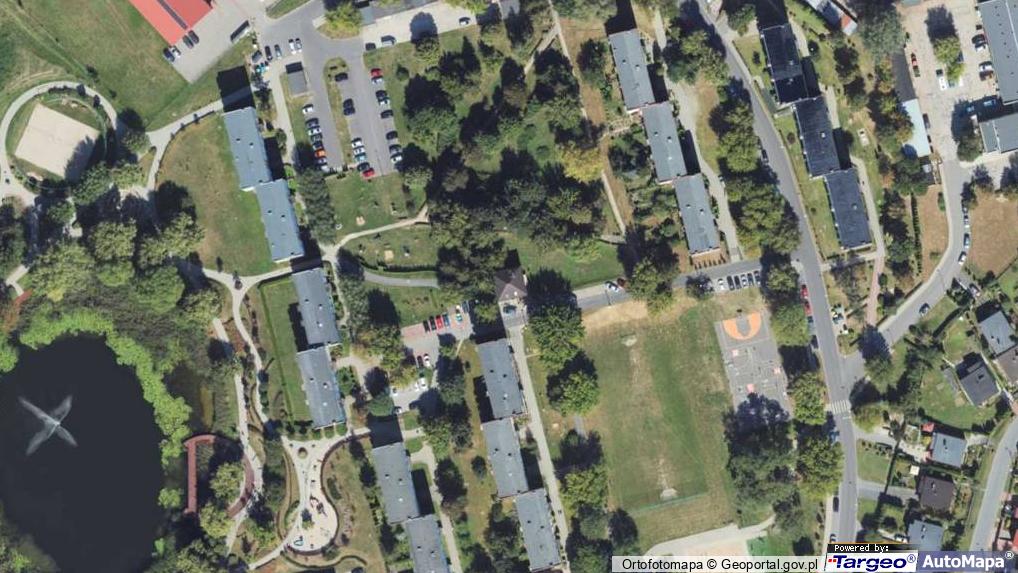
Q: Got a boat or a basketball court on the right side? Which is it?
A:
basketball court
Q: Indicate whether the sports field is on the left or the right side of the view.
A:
right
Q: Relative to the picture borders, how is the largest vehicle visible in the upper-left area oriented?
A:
at an angle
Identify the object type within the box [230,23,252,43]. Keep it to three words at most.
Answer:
vehicle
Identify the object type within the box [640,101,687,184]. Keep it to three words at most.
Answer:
building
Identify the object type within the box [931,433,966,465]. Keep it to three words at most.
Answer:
house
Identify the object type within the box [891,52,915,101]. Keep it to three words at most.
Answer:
shed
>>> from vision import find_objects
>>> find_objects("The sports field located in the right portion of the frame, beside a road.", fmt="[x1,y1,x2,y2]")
[589,308,740,517]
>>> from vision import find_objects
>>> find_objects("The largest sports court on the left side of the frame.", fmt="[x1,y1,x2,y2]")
[15,102,98,178]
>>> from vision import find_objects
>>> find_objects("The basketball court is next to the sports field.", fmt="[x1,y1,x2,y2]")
[715,310,796,440]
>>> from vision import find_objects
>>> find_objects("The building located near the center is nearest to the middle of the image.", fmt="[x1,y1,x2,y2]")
[494,269,527,301]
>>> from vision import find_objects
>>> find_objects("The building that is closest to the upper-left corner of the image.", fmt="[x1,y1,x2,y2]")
[130,0,212,45]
